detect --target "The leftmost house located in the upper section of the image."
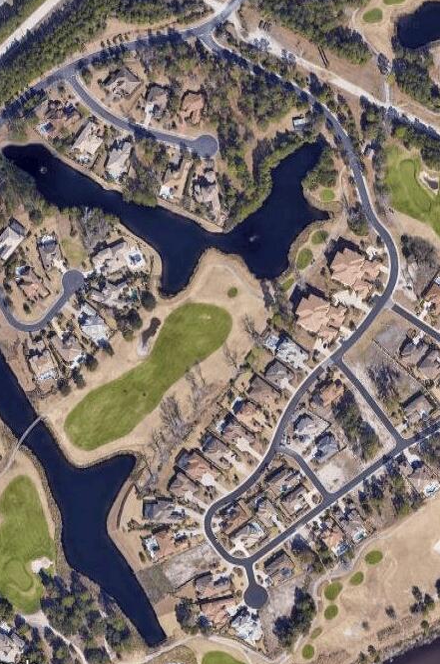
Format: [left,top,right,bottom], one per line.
[0,222,26,257]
